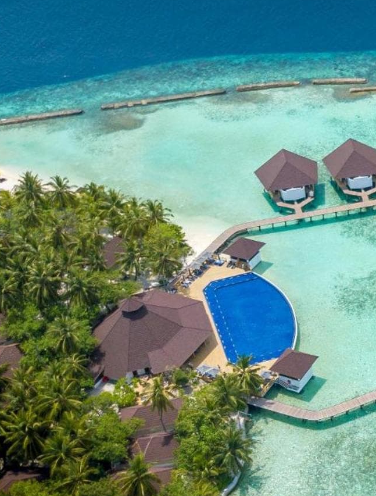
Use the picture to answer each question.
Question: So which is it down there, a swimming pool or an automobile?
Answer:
swimming pool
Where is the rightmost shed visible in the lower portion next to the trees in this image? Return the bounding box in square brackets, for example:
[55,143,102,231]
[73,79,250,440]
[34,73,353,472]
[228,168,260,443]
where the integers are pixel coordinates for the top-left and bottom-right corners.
[269,347,320,401]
